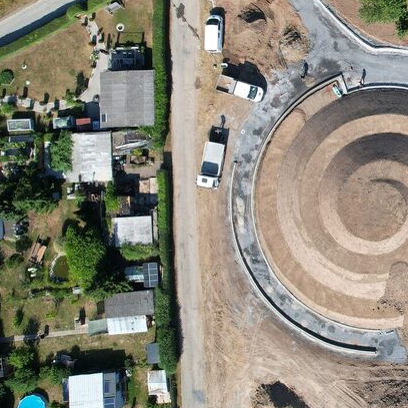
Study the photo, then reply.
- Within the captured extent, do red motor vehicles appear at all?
No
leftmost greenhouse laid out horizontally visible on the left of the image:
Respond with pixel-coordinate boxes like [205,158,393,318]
[8,119,36,131]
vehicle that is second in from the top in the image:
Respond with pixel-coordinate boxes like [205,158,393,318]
[214,72,265,102]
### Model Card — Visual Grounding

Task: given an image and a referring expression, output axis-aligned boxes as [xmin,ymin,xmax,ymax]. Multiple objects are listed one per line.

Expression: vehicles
[197,137,223,190]
[205,12,223,52]
[214,72,265,102]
